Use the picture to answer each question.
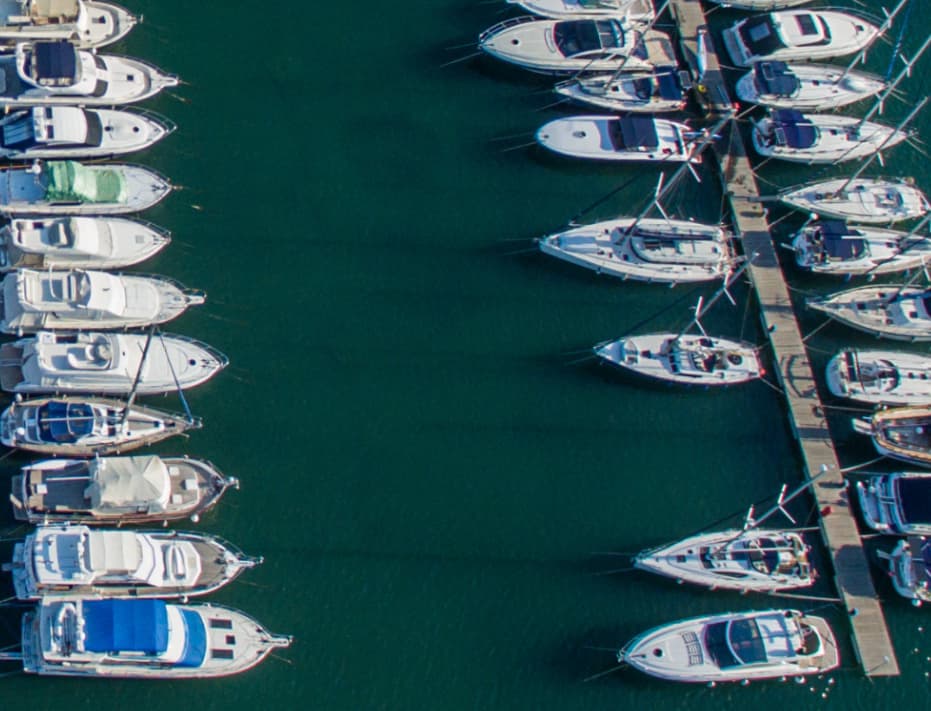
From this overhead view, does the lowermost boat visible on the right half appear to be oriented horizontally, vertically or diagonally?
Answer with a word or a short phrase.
horizontally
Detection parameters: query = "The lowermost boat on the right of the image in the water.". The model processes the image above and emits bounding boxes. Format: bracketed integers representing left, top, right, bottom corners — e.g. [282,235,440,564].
[621,610,846,685]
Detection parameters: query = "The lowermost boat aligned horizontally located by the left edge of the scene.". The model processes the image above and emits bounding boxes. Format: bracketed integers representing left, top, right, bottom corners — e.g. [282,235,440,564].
[0,586,292,680]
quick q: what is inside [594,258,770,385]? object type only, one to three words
boat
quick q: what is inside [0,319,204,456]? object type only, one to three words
boat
